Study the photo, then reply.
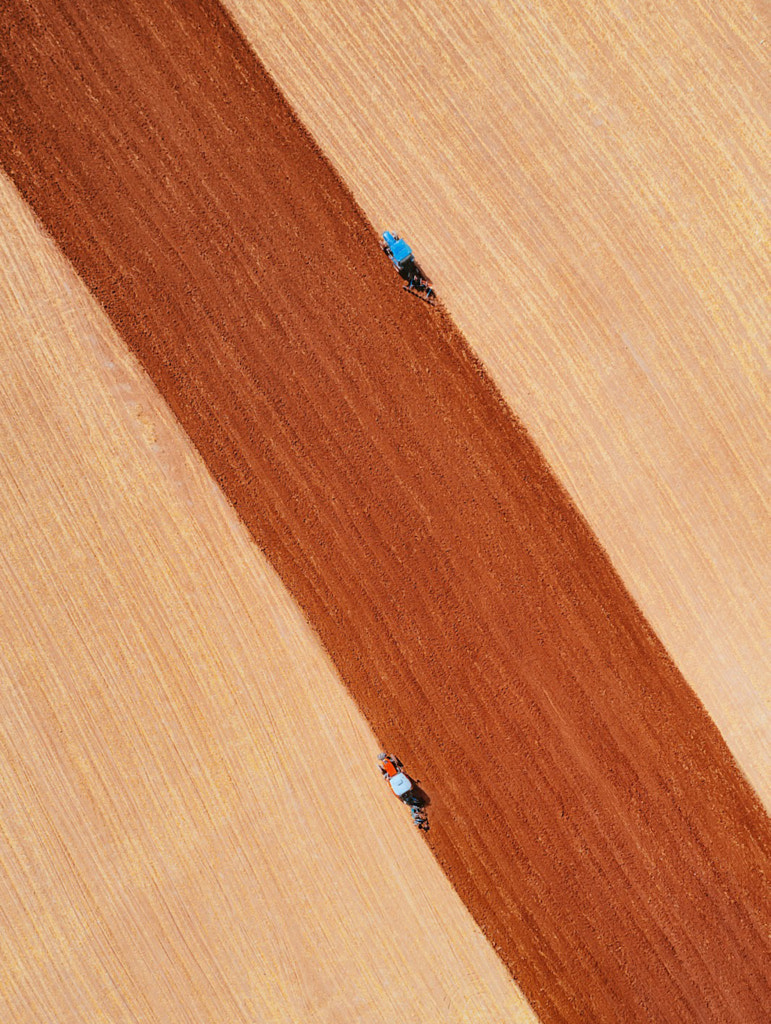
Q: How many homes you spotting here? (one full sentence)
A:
There are no homes in this view.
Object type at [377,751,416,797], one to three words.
work vehicle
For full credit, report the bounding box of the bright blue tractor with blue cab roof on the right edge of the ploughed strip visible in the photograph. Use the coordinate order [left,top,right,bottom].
[378,231,414,273]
